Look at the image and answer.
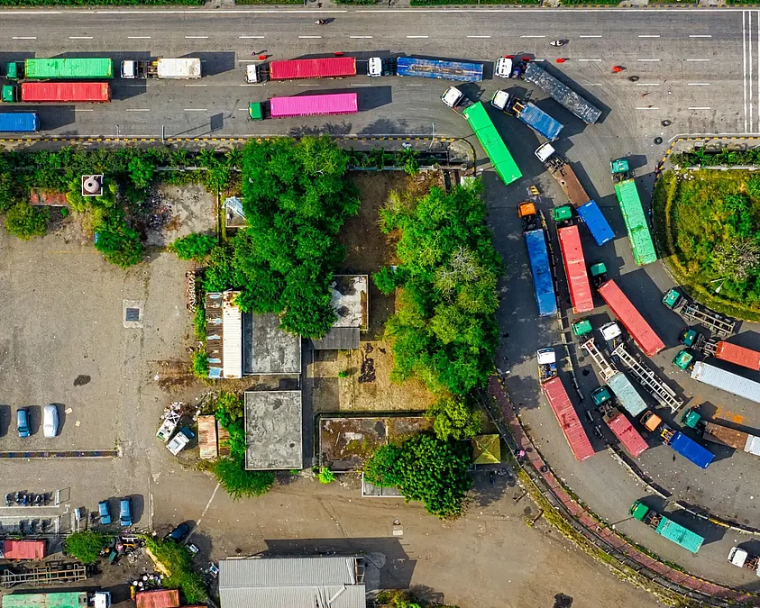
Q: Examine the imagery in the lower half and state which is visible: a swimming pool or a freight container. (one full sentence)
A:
There is a freight container in the lower half.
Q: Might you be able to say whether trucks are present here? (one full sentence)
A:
Yes, there is a truck in the image.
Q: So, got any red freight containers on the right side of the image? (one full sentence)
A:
Yes, a red freight container is visible on the right side of the image.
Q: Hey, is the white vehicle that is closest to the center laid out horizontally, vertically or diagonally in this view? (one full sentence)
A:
The white vehicle that is closest to the center has been laid out vertically relative to the frame.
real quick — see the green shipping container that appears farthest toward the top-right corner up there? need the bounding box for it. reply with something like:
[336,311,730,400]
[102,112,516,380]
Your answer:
[615,179,659,268]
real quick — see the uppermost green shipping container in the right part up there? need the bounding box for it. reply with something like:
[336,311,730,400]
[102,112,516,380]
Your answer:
[462,102,523,188]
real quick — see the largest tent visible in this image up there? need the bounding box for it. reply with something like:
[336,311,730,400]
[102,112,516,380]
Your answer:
[472,433,501,463]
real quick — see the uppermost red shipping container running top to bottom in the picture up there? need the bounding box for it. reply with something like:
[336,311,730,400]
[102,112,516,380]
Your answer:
[558,225,594,314]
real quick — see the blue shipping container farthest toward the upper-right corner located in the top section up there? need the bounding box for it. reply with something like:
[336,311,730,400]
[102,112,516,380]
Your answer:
[516,102,564,142]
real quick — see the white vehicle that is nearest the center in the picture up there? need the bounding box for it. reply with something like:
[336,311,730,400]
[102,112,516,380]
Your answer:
[534,347,555,387]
